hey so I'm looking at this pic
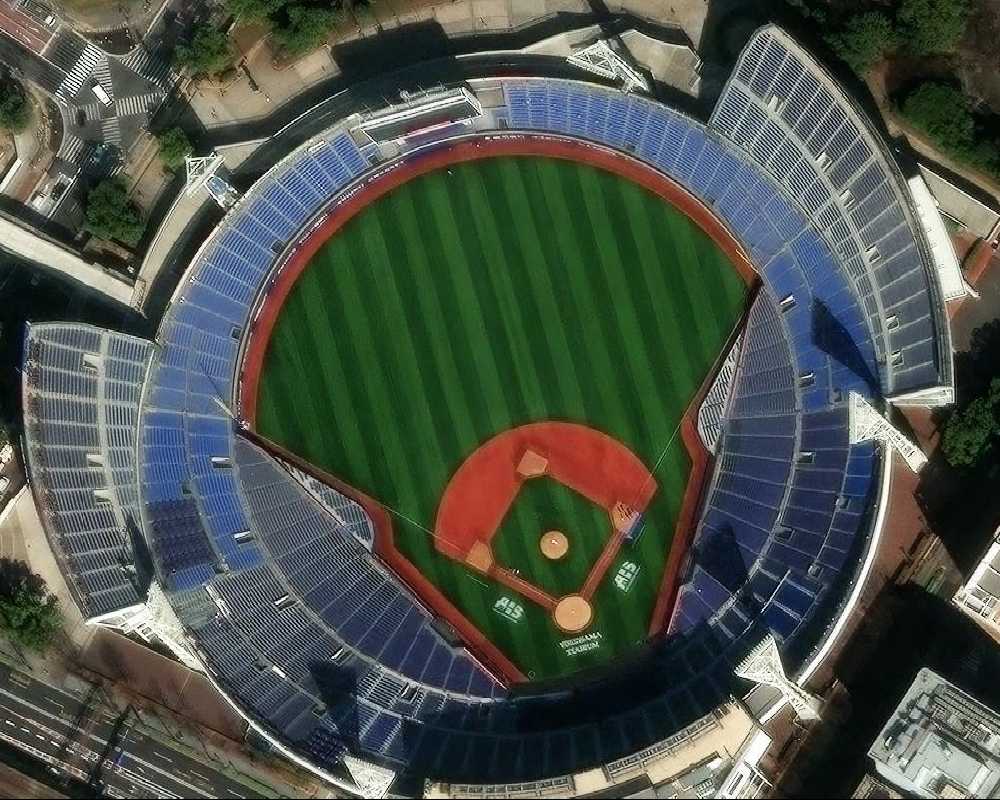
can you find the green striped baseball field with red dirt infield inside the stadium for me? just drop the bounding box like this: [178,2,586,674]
[240,140,763,703]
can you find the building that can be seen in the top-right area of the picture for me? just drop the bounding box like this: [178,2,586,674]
[918,164,1000,245]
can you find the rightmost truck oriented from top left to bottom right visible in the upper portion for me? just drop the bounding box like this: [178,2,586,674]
[90,83,111,106]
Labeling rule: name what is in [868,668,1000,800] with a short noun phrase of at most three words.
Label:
building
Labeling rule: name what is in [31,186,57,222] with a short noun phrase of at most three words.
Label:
bus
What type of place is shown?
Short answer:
sports ground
